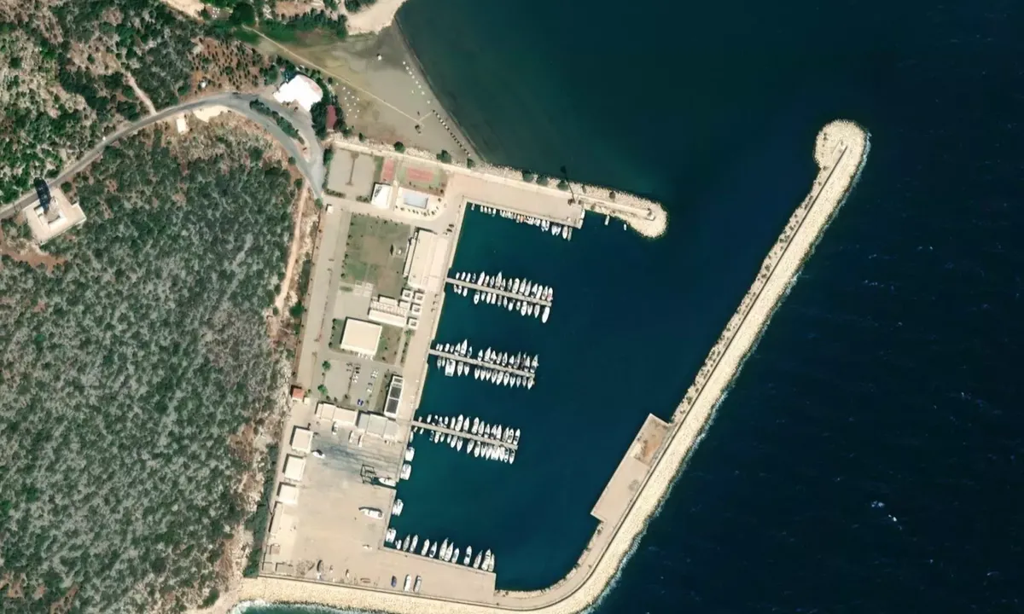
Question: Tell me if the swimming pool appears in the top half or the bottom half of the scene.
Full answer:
It is in the top half that the swimming pool appears.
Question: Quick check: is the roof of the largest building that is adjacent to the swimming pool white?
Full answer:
Yes, white is the color of the roof of the largest building that is adjacent to the swimming pool.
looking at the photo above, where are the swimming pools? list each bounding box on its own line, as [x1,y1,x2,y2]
[394,187,444,220]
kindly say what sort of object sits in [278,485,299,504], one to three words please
shed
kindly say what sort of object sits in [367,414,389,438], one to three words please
building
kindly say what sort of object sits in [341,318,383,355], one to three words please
building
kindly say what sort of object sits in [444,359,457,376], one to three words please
boat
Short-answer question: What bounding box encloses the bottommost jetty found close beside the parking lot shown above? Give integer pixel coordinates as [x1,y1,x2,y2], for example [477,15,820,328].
[411,420,518,450]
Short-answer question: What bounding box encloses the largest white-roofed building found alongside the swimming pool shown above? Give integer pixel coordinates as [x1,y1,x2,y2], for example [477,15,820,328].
[408,230,448,290]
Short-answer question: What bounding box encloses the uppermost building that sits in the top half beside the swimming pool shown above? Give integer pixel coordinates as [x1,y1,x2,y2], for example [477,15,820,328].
[372,183,393,209]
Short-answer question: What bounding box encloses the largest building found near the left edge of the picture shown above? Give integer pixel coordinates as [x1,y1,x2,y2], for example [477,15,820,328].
[24,188,87,245]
